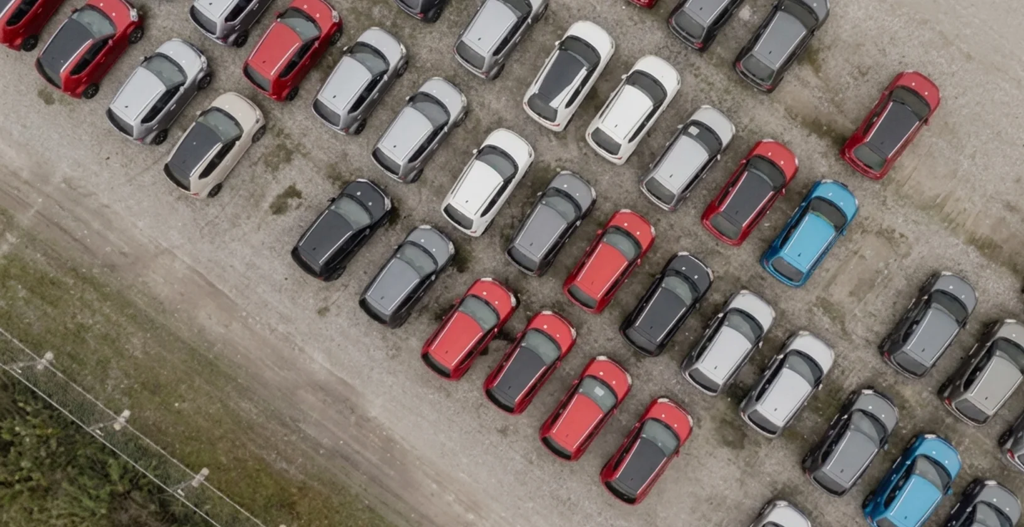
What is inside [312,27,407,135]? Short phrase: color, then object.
gray car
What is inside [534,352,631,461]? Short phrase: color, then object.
red car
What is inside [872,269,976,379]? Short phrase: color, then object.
gray car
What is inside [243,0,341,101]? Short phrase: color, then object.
red car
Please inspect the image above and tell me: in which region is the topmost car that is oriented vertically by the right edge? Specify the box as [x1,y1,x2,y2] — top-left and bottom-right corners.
[996,410,1024,474]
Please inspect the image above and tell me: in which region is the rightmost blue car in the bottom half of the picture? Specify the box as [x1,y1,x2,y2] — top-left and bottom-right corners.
[856,430,960,527]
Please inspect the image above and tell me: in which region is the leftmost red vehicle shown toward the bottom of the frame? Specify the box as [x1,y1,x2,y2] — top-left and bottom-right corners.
[419,274,516,381]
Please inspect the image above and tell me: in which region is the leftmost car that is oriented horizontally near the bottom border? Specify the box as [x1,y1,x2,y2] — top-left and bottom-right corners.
[744,496,811,527]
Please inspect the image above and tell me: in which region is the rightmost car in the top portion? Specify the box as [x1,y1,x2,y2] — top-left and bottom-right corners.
[834,70,938,179]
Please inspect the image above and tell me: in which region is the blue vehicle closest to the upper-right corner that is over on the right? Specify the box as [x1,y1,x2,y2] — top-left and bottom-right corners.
[755,178,856,287]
